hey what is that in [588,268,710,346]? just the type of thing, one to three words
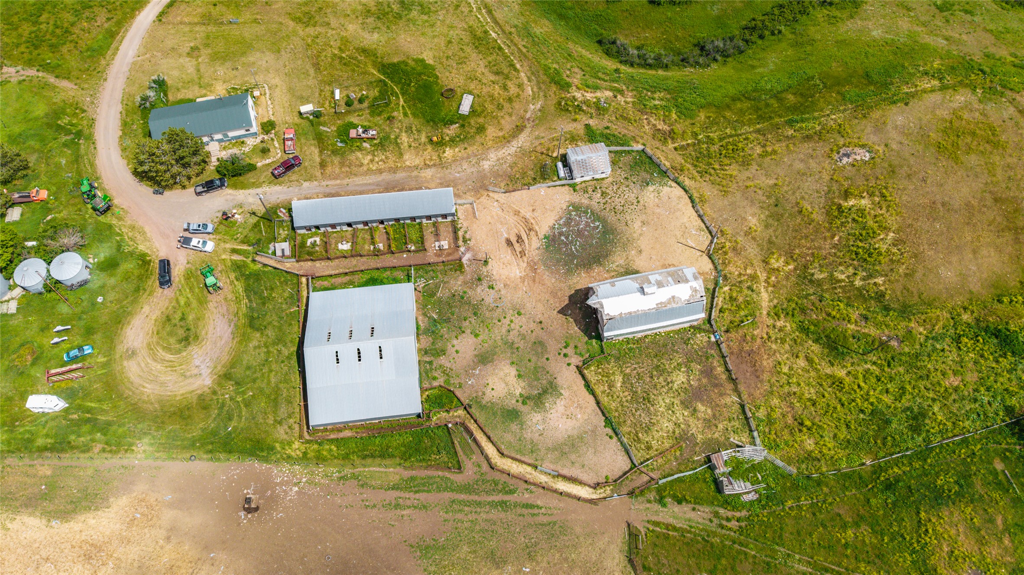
barn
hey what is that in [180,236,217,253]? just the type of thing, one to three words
vehicle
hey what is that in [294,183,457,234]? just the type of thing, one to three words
building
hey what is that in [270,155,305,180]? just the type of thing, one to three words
truck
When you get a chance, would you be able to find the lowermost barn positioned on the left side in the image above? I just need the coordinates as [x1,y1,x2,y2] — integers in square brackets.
[305,281,426,431]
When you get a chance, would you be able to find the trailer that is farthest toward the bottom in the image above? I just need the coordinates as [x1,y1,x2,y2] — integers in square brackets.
[23,395,74,415]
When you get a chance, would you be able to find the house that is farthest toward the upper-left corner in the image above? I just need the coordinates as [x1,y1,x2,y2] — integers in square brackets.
[148,91,257,149]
